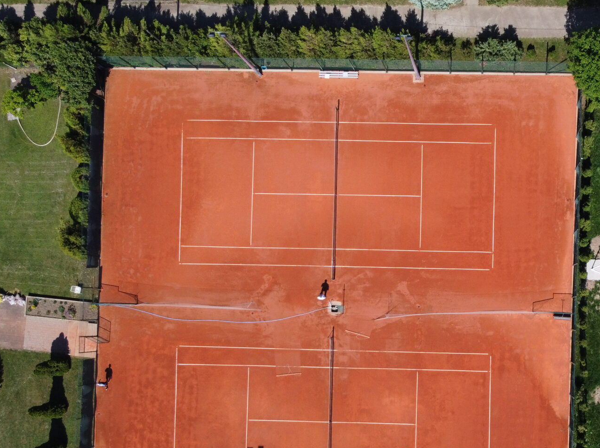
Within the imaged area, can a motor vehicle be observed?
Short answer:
No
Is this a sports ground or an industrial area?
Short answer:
sports ground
